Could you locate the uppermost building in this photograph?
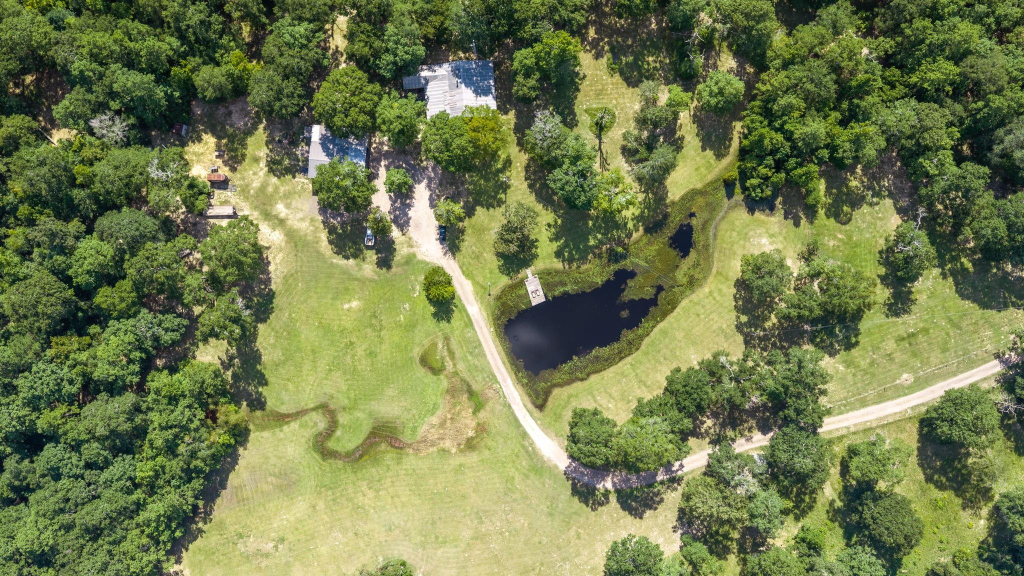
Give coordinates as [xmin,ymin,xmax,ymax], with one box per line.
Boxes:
[404,60,497,120]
